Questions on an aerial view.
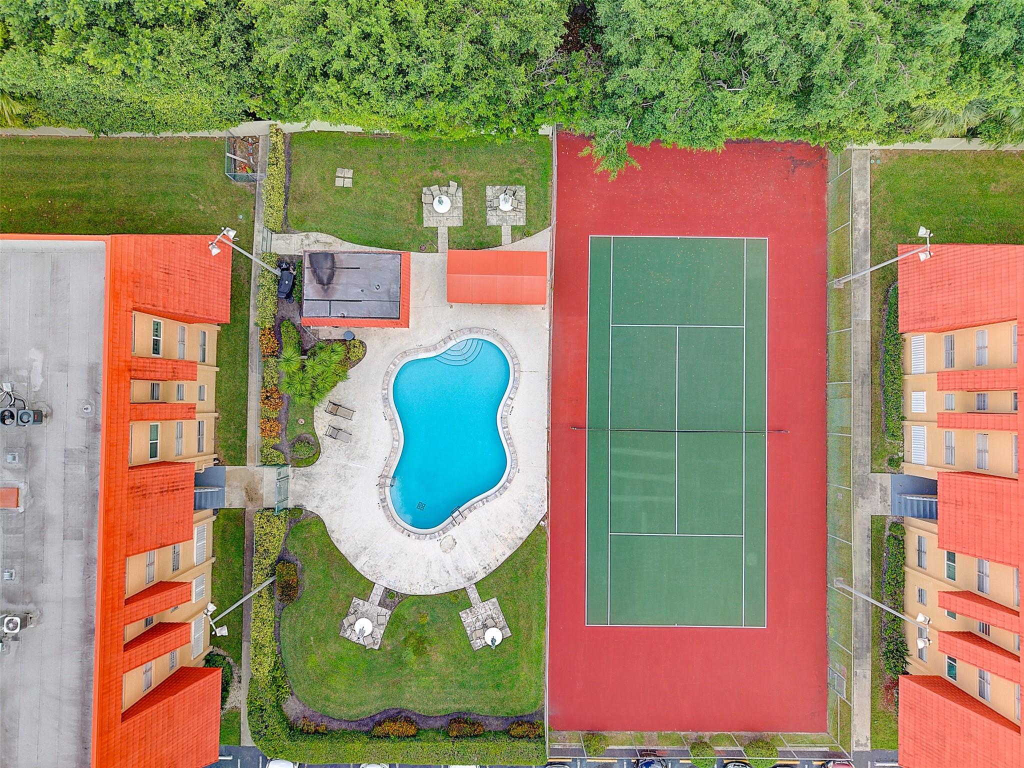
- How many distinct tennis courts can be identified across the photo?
1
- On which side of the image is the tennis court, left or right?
right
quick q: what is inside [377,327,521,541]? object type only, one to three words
swimming pool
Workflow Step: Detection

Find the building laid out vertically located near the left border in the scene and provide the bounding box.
[0,232,234,768]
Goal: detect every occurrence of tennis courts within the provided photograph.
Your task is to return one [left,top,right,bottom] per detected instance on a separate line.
[551,131,828,732]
